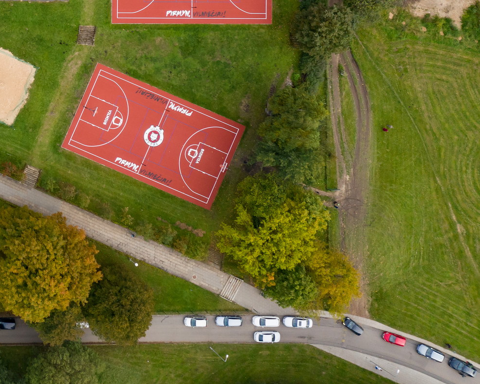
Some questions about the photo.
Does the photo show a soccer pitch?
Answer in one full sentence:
No, this view has no soccer pitch in it.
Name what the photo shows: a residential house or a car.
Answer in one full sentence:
Looking from above, you can make out a car.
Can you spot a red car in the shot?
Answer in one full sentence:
Yes, this view includes a red car.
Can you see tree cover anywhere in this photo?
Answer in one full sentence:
Yes, tree cover can be seen from above here.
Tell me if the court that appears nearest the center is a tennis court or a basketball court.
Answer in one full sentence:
I'd say the court that appears nearest the center is a basketball court.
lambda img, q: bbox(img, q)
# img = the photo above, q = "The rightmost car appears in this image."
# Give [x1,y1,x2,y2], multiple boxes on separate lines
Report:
[447,356,480,380]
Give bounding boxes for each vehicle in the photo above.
[380,329,410,350]
[282,316,313,329]
[415,343,448,366]
[251,315,281,329]
[184,316,209,329]
[341,318,367,338]
[215,315,244,329]
[447,356,480,380]
[0,318,15,329]
[254,331,281,345]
